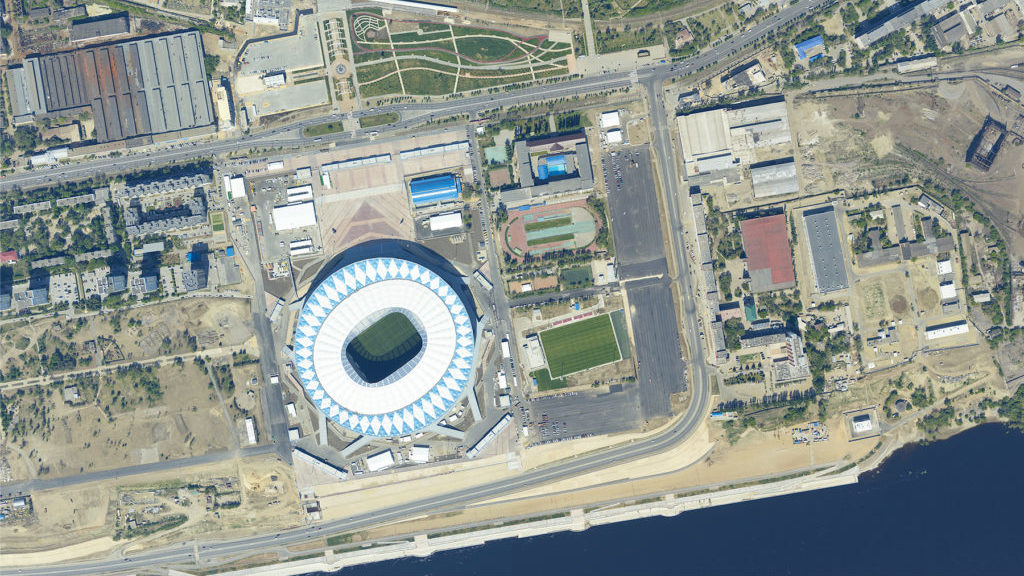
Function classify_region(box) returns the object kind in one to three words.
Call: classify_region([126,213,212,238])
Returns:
building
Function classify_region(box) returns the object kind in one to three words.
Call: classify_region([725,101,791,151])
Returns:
building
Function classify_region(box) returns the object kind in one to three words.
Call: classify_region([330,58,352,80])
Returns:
fountain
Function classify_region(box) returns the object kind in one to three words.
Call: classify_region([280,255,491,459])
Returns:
stadium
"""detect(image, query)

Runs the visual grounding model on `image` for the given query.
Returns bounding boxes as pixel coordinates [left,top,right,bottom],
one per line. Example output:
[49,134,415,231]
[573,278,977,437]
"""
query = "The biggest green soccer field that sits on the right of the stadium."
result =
[538,312,623,380]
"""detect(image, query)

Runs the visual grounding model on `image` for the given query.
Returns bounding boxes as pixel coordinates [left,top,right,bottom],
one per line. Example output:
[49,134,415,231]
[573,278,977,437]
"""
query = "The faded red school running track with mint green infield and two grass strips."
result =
[499,199,602,260]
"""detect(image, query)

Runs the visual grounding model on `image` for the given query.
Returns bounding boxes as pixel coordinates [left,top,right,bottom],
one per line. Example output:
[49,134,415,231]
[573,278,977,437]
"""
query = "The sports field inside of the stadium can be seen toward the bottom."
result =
[347,311,423,382]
